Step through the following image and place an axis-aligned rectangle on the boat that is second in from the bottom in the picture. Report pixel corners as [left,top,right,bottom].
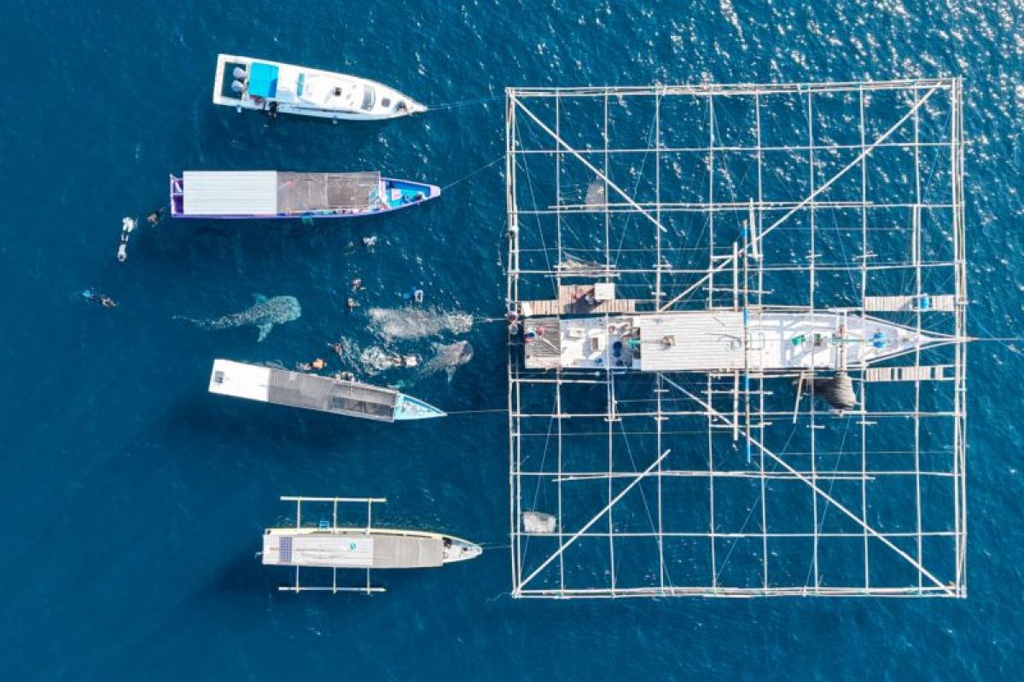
[210,359,447,423]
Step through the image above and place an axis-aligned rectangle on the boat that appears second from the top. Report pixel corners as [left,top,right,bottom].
[171,170,442,226]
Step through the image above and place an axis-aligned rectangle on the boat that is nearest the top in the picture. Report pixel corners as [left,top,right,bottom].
[209,51,427,124]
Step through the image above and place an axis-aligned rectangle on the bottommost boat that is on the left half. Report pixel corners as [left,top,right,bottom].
[255,496,483,596]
